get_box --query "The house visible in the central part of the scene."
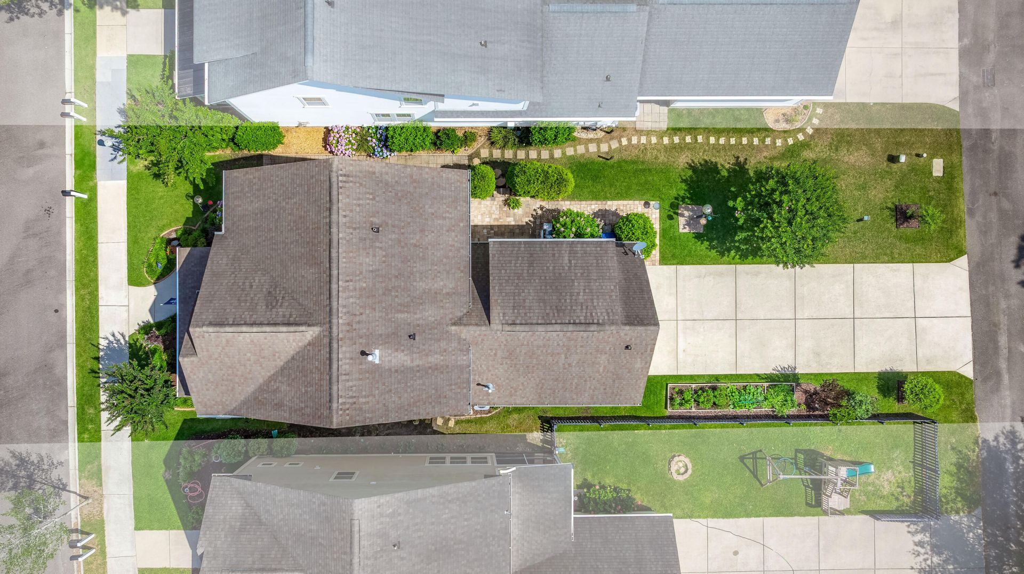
[173,156,659,428]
